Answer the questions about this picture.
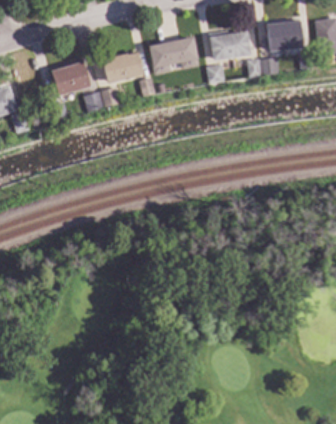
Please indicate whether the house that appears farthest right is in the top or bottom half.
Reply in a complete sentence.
It is in the top half that the house that appears farthest right appears.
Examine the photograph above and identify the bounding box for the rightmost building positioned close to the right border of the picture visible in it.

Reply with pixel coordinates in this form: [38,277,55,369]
[314,18,336,54]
